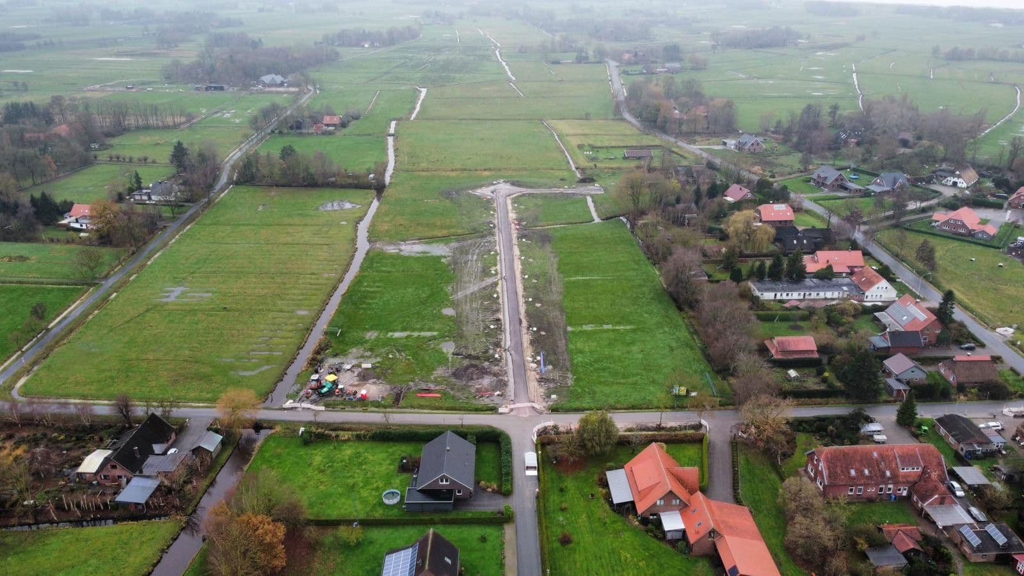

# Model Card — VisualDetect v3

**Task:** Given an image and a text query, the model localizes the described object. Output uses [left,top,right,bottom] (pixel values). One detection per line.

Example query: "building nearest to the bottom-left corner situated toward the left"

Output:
[77,413,187,514]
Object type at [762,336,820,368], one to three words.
barn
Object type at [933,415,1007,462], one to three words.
house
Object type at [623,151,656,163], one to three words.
barn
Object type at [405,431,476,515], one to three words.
house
